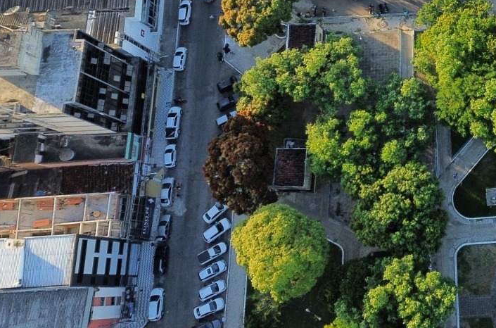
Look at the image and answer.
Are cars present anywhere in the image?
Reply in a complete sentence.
Yes, a car can be made out from above.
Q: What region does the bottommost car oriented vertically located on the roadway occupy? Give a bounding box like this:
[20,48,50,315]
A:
[148,288,166,322]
